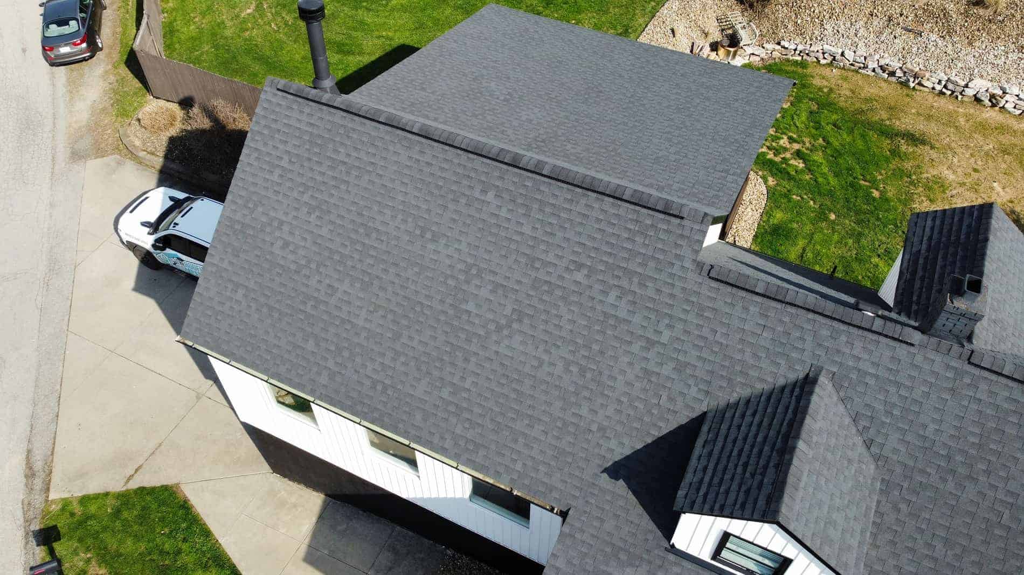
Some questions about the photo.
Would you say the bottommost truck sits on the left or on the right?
left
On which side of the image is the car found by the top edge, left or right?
left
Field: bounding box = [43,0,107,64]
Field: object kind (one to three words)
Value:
car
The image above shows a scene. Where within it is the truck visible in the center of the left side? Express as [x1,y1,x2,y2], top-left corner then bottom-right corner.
[115,188,226,275]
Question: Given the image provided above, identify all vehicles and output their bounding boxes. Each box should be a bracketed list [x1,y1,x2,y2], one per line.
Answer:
[115,188,226,275]
[43,0,107,64]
